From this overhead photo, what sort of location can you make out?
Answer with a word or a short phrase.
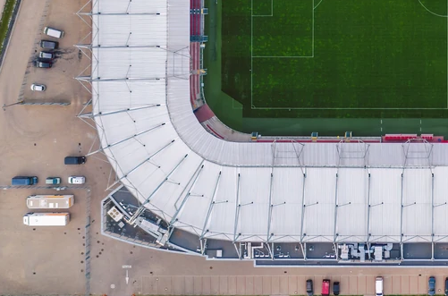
sports ground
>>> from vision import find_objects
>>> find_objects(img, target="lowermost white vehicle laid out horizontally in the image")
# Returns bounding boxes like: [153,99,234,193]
[22,212,73,226]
